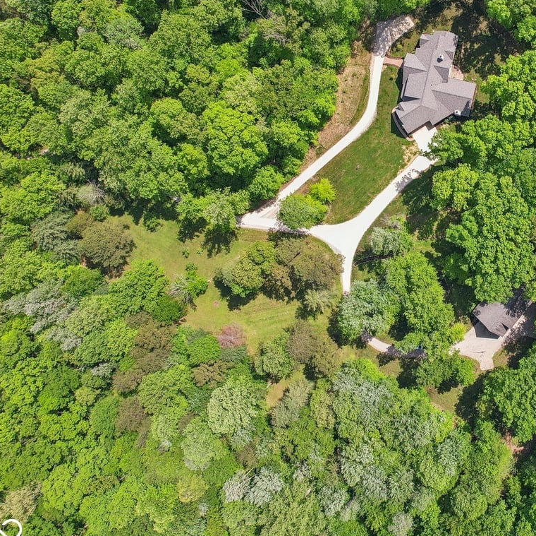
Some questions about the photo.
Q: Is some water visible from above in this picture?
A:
No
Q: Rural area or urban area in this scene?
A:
rural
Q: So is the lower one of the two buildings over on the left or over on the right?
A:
right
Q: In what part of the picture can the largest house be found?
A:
top right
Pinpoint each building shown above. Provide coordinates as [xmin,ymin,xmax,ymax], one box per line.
[475,287,527,337]
[393,28,478,135]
